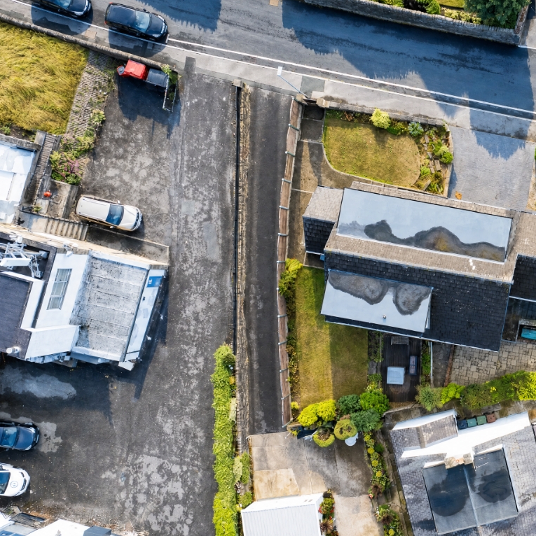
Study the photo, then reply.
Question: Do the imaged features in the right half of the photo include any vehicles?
No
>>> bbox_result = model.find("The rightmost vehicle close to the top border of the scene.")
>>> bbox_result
[101,1,173,45]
